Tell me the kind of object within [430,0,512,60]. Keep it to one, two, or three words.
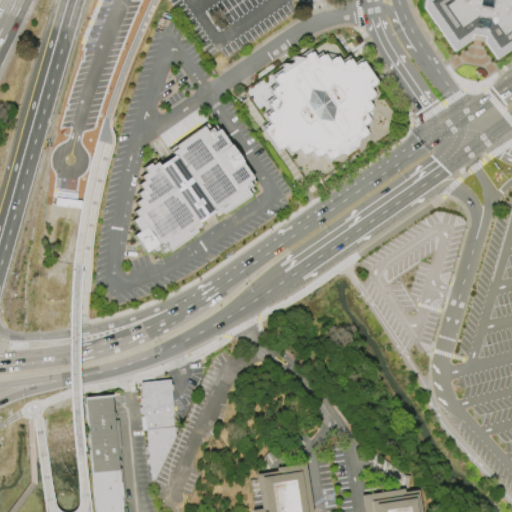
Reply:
building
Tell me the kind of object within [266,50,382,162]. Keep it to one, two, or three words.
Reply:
building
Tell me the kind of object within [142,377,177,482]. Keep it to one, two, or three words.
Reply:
shed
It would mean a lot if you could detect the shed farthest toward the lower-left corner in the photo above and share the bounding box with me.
[86,395,124,512]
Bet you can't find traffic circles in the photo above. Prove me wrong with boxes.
[52,139,90,198]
